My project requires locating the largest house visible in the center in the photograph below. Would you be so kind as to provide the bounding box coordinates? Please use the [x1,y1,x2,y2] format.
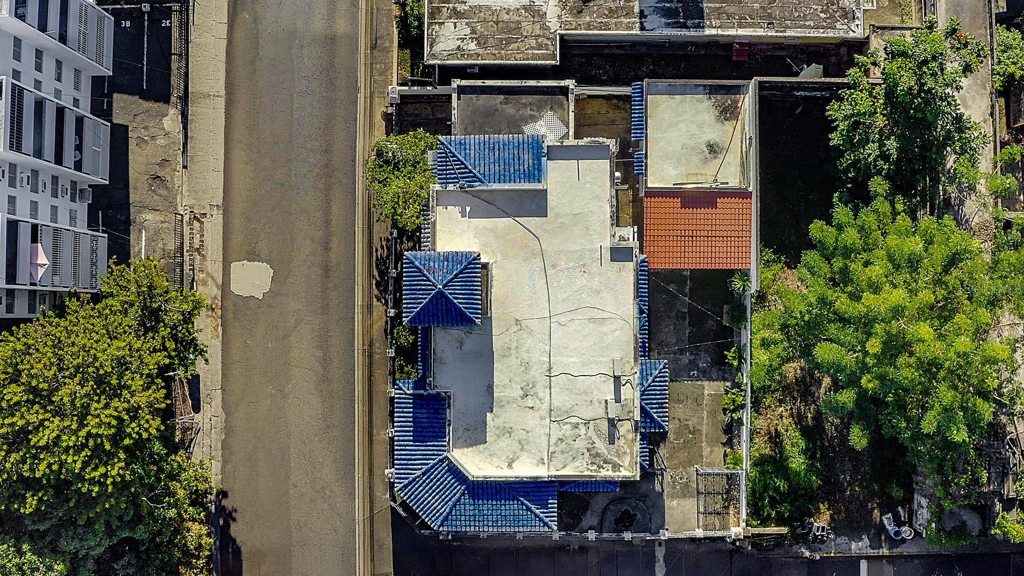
[393,134,669,532]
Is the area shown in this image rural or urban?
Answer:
urban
